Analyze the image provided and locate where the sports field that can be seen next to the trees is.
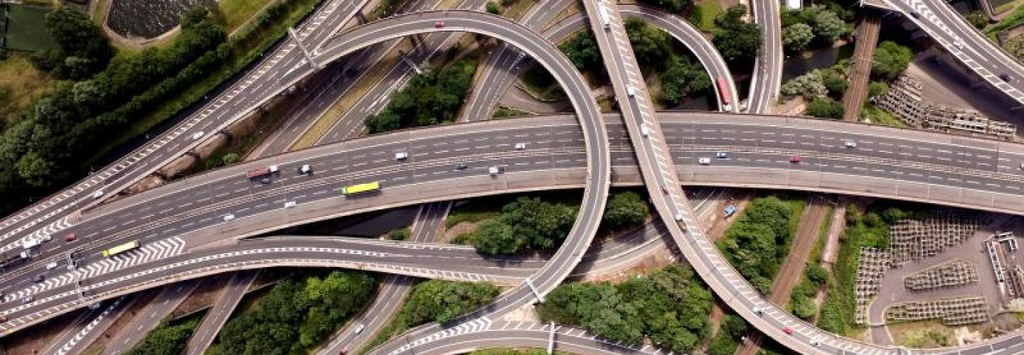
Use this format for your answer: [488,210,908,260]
[3,2,53,50]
